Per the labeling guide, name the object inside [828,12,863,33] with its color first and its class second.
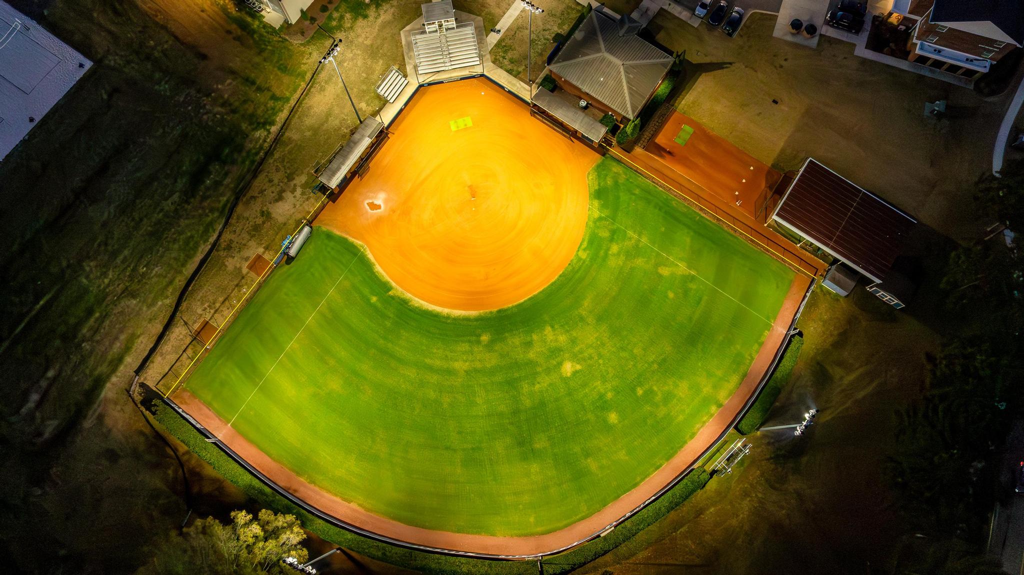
black car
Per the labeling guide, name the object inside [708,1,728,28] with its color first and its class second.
black car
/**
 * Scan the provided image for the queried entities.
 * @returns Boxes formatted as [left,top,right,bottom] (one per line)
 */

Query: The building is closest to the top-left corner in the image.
[0,0,97,175]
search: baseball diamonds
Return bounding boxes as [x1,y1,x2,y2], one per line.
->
[168,76,819,555]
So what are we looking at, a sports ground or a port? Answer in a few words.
sports ground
